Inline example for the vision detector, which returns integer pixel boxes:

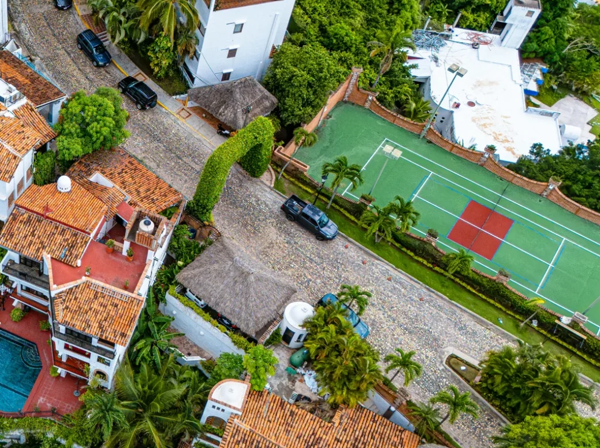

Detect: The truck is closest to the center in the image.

[278,189,342,242]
